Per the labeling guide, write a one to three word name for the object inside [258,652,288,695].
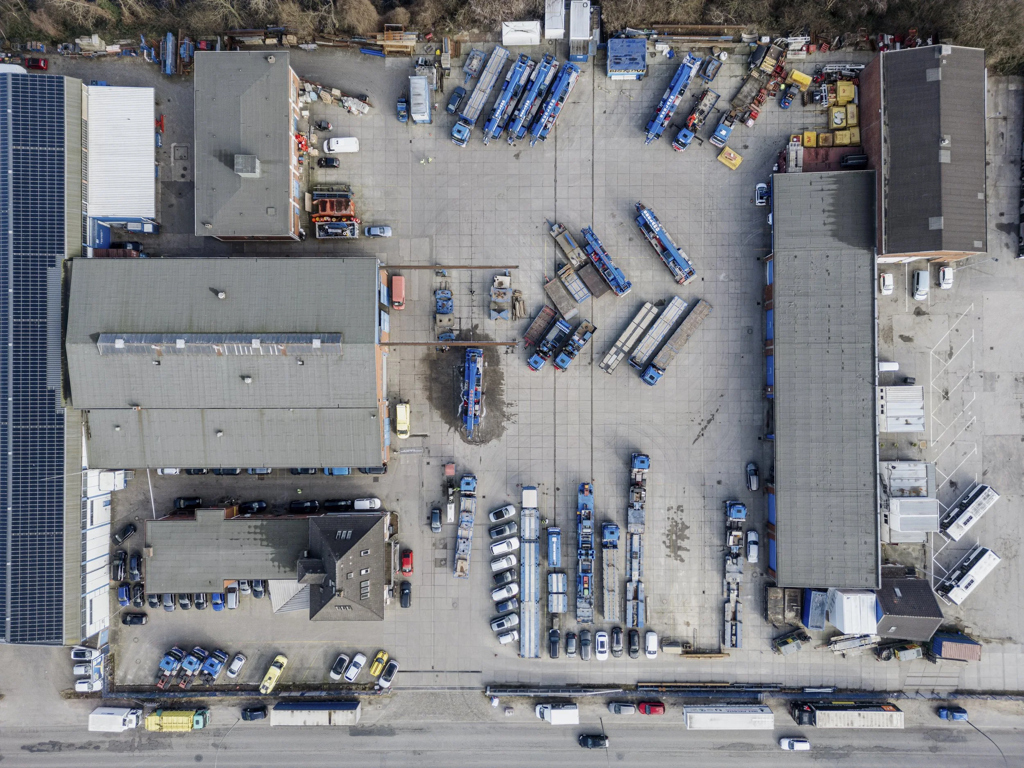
van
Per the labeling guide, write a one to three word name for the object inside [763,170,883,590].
building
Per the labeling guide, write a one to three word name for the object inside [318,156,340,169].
vehicle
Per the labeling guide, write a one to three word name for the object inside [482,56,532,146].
crane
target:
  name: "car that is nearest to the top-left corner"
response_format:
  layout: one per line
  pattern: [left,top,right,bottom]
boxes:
[25,56,50,71]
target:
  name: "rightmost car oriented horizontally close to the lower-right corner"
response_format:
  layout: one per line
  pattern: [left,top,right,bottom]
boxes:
[937,706,968,721]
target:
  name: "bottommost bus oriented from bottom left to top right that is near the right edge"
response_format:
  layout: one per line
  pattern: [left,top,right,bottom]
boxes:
[939,545,1001,607]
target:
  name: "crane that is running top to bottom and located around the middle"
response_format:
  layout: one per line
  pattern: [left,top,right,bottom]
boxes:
[460,349,483,438]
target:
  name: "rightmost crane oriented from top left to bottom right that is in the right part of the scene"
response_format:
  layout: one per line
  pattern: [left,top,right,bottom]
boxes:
[634,201,697,287]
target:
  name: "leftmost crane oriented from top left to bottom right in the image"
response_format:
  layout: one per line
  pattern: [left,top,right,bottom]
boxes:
[580,228,630,297]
